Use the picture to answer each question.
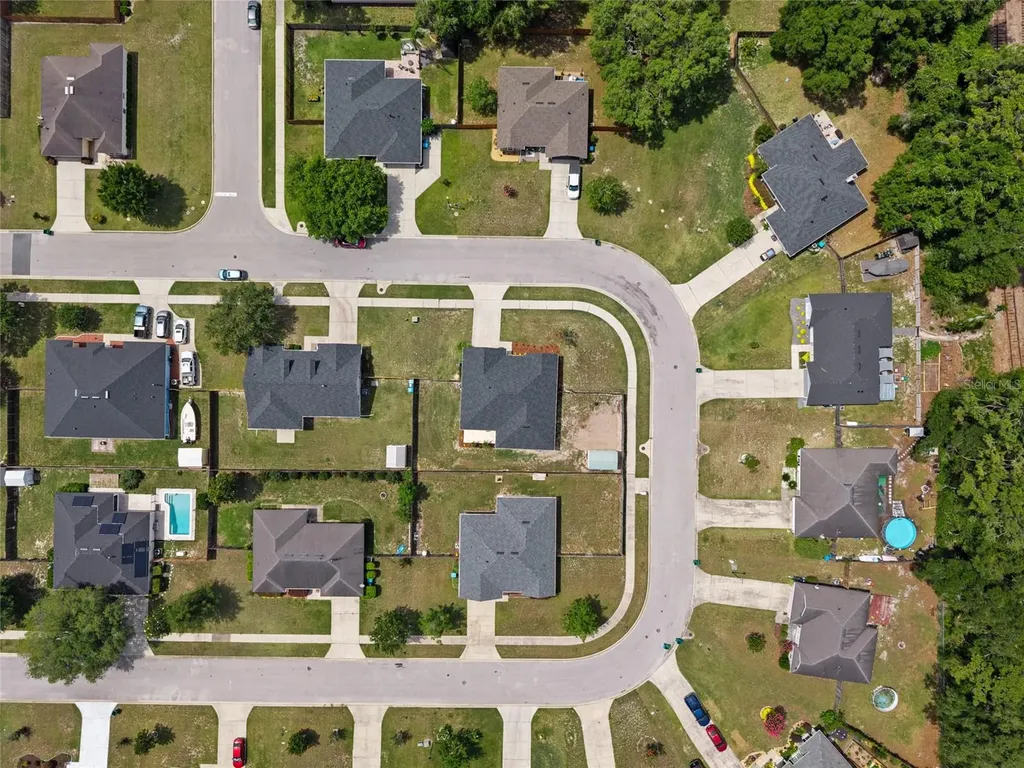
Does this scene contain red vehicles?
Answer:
Yes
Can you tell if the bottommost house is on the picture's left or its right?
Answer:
right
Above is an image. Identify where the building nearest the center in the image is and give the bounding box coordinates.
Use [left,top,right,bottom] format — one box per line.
[460,347,559,449]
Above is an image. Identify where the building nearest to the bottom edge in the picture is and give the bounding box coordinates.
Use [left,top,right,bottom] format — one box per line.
[774,727,849,768]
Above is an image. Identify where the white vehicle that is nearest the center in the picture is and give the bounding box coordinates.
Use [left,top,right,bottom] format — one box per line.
[567,163,580,199]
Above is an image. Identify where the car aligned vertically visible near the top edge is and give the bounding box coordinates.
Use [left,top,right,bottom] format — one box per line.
[247,1,261,30]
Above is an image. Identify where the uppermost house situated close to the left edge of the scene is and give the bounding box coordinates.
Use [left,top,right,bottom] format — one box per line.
[40,43,129,158]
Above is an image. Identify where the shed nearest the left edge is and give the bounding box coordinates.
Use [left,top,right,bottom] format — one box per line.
[4,468,41,486]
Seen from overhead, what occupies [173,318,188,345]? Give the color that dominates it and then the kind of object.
white car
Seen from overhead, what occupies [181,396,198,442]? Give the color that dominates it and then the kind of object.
white boat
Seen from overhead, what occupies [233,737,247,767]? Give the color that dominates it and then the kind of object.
red car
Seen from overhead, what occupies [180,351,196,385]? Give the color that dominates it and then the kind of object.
white vehicle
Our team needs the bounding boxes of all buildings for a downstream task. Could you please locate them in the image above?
[40,43,129,158]
[774,727,849,768]
[324,60,422,168]
[787,581,878,683]
[496,66,589,164]
[45,340,171,439]
[178,447,209,467]
[803,292,893,406]
[790,447,898,540]
[903,426,923,436]
[587,450,618,470]
[460,347,559,449]
[386,444,408,468]
[53,492,155,595]
[252,509,365,597]
[459,497,557,601]
[755,114,869,257]
[243,344,362,430]
[890,233,918,253]
[4,468,41,486]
